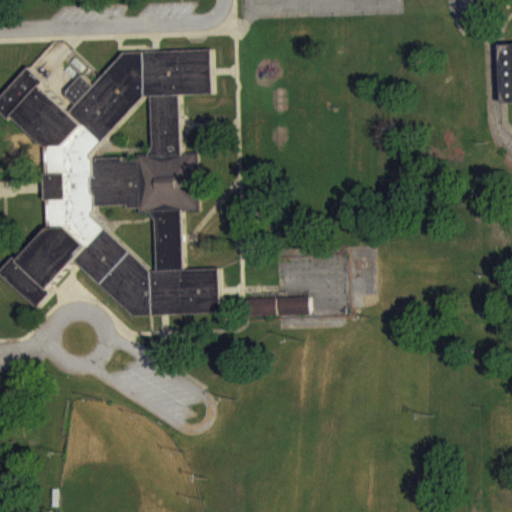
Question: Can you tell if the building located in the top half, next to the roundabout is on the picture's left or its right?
left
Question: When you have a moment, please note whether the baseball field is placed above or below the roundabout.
below it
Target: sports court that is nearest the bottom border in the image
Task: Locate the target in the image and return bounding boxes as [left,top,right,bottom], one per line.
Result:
[281,316,346,330]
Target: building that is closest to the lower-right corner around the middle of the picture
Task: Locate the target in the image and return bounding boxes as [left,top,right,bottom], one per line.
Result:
[278,296,310,316]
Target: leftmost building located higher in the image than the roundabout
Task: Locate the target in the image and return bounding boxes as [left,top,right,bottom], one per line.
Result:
[0,50,222,316]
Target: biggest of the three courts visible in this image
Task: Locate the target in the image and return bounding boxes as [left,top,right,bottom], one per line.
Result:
[280,256,348,315]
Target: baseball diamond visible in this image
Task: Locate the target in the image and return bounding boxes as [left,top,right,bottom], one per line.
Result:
[58,401,199,512]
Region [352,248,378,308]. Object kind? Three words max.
sports court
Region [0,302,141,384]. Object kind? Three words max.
roundabout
